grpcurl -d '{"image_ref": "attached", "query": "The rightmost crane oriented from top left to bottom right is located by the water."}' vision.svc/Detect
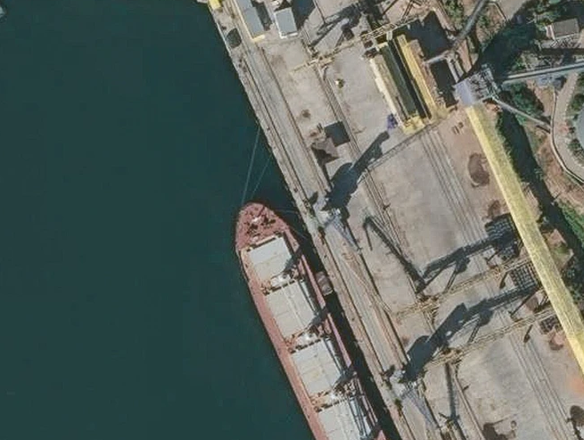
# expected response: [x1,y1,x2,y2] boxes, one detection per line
[379,360,440,430]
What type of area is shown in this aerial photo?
port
